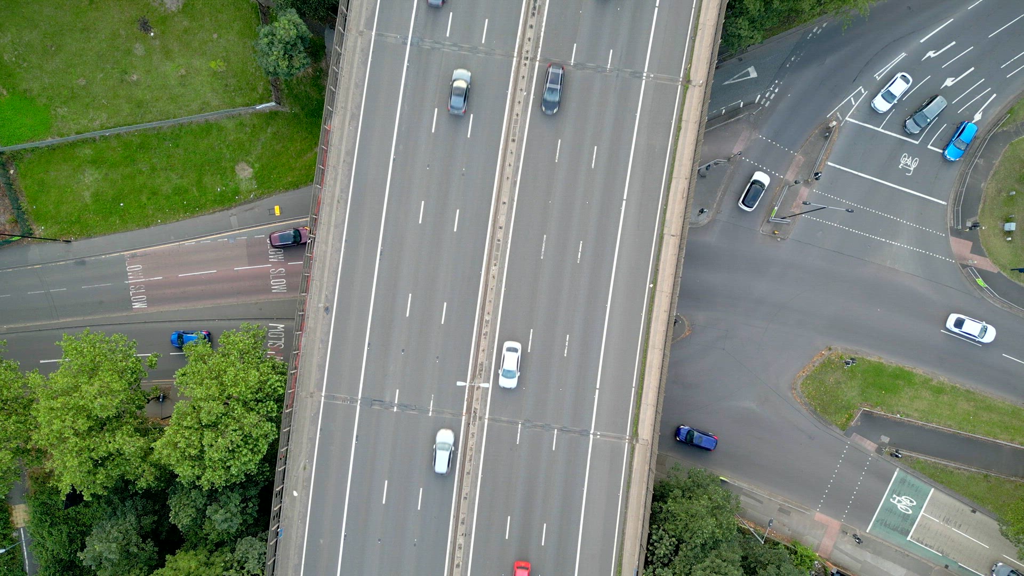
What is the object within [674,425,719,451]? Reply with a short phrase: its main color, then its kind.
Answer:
blue car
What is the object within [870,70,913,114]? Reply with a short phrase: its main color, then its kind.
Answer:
white car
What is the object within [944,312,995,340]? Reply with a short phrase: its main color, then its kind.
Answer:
white car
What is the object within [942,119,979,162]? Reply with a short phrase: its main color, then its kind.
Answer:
blue car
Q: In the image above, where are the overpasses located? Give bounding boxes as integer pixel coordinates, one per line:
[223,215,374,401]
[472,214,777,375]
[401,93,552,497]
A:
[275,0,722,576]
